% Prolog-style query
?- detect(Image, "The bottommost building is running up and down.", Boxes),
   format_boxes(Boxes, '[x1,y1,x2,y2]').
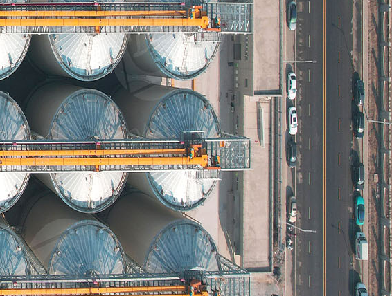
[232,93,272,273]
